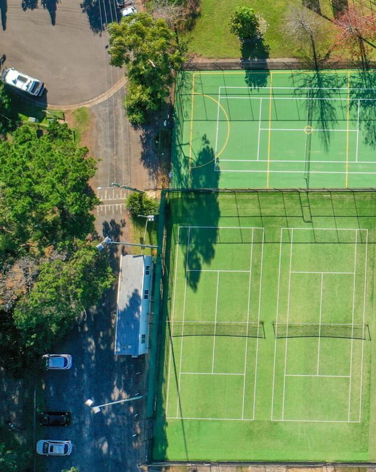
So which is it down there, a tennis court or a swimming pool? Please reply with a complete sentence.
The image shows a tennis court.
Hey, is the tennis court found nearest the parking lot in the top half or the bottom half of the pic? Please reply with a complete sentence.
It is in the bottom half that the tennis court found nearest the parking lot appears.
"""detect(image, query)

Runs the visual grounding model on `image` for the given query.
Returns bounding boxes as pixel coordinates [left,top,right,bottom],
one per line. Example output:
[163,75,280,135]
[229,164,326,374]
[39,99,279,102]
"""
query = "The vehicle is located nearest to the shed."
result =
[44,353,73,371]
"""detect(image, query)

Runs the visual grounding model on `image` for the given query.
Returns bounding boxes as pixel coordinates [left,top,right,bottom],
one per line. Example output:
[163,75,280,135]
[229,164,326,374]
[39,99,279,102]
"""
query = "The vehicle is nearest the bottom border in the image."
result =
[33,439,71,459]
